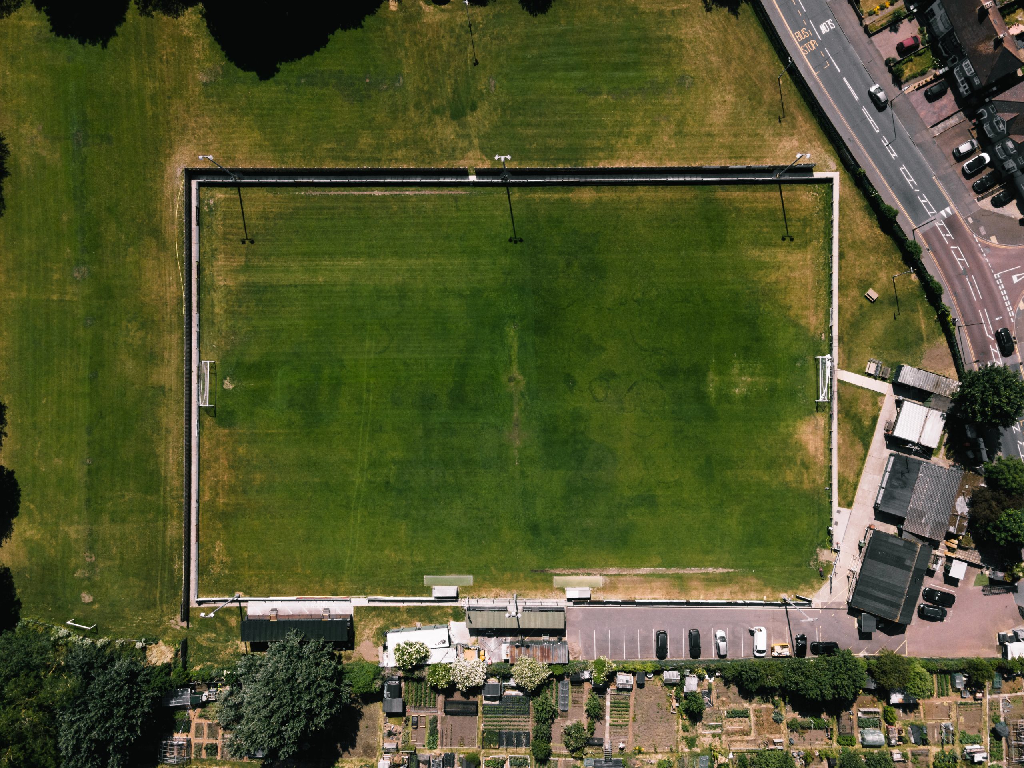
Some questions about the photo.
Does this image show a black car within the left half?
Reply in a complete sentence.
No, there is no black car within the left half.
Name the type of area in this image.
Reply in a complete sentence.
The picture captures a sports ground.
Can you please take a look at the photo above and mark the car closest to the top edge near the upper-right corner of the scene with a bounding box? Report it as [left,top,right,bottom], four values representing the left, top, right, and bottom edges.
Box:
[894,37,920,56]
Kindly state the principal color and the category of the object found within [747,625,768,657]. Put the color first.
white vehicle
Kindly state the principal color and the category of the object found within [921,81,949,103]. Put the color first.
black car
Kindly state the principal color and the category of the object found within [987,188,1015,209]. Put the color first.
black car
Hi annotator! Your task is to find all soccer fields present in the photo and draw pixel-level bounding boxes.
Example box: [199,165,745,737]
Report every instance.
[199,185,832,599]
